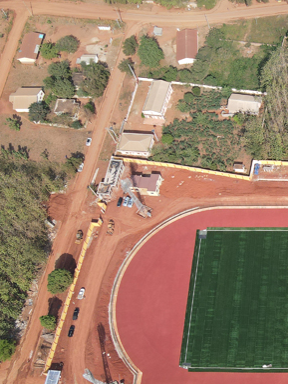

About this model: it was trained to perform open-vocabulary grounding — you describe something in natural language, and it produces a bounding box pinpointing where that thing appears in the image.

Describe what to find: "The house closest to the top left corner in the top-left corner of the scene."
[17,31,47,63]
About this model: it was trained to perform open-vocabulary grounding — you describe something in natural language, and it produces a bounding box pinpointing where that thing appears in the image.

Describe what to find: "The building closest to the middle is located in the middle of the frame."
[133,174,159,194]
